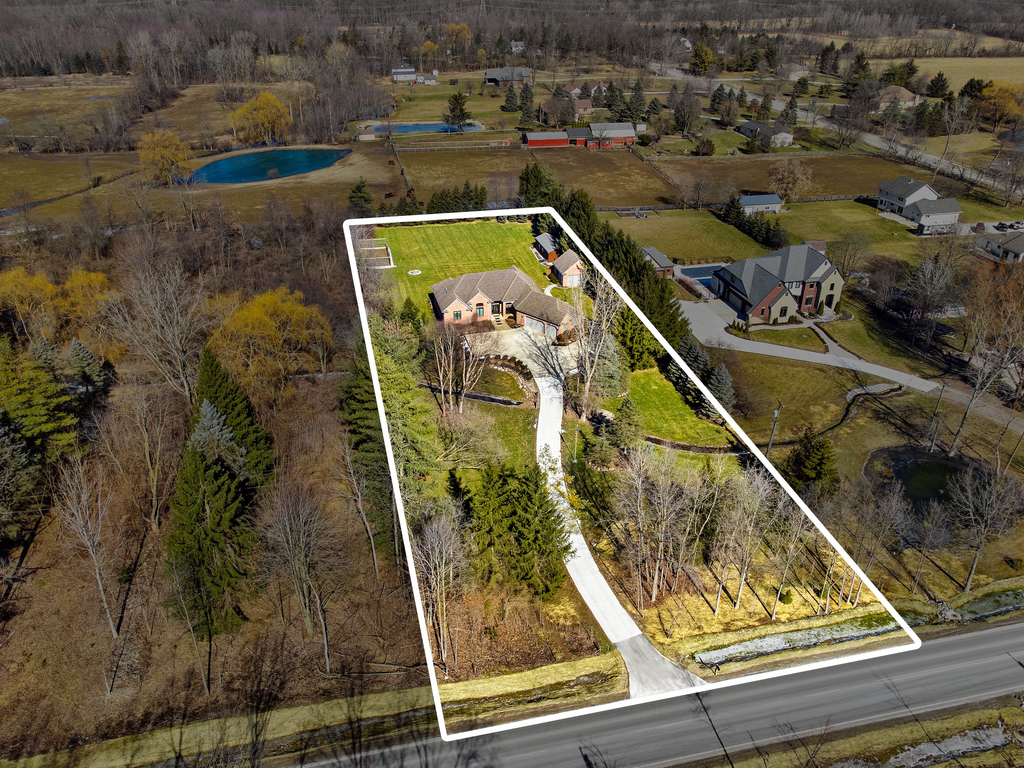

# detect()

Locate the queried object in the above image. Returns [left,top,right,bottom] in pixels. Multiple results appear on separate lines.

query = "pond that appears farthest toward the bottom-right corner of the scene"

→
[861,446,1008,553]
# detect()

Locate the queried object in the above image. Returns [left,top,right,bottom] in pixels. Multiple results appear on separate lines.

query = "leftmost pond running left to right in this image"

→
[193,149,351,185]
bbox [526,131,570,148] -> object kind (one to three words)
barn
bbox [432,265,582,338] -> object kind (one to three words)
house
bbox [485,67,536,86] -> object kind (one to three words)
house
